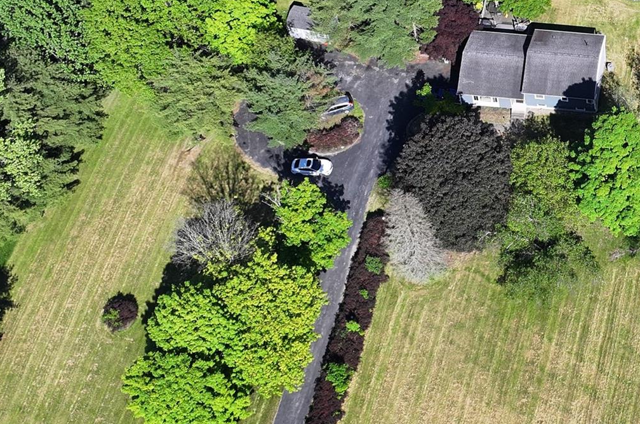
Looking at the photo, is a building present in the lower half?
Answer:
No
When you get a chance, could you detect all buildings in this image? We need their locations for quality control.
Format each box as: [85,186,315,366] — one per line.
[286,7,337,43]
[457,29,607,127]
